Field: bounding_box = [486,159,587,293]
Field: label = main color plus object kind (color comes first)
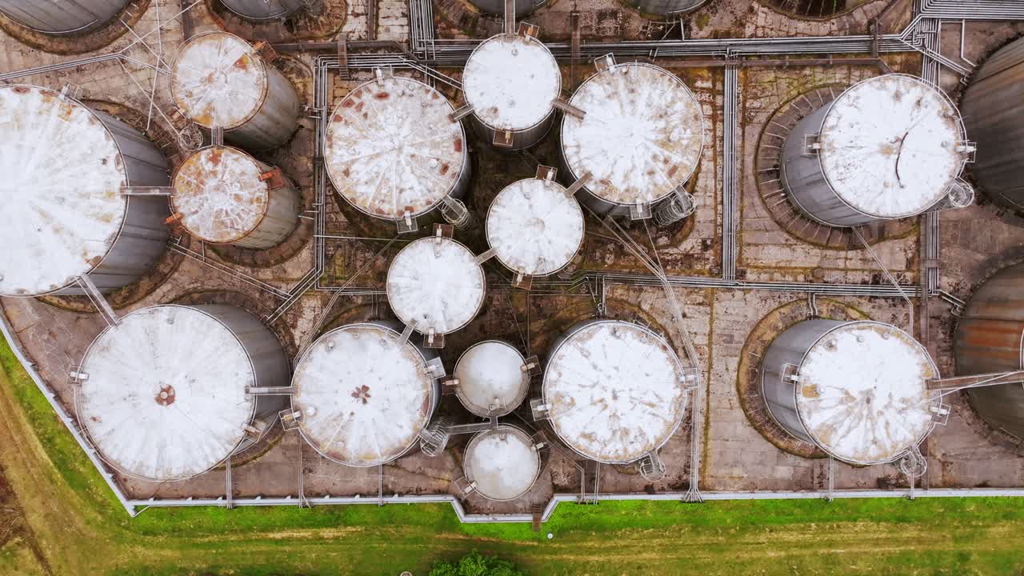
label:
white storage tank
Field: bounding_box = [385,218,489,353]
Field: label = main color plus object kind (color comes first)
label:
white storage tank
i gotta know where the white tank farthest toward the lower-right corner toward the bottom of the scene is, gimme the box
[758,317,963,468]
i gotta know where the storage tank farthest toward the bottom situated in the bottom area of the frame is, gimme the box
[451,409,555,506]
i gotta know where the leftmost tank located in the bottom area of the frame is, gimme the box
[52,301,290,485]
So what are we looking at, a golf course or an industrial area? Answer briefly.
industrial area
